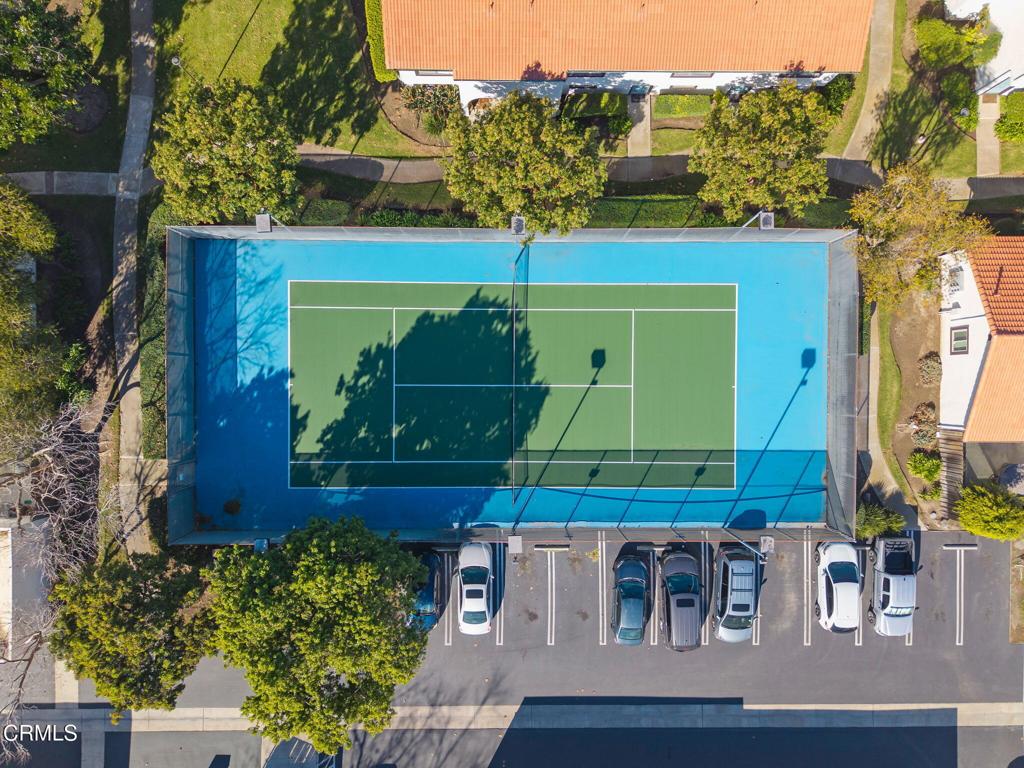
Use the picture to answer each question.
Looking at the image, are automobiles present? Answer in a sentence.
Yes, the image includes an automobile.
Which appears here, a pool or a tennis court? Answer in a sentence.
The one in the frame is a tennis court.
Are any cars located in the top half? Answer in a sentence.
No, in the top half there is no car.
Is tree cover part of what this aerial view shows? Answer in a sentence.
Yes, there is tree cover in the image.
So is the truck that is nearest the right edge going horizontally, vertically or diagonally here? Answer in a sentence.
From this overhead view, the truck that is nearest the right edge appears to run vertically.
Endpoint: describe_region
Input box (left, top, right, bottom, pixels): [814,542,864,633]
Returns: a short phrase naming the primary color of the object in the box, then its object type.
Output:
white car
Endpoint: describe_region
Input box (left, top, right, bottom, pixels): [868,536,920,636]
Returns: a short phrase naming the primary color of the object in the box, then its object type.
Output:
white truck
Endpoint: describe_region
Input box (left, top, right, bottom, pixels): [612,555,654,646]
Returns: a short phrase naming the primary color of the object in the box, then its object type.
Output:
blue car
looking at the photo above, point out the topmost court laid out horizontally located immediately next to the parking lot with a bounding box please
[193,238,829,528]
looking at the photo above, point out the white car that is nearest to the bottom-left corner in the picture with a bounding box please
[455,542,496,635]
